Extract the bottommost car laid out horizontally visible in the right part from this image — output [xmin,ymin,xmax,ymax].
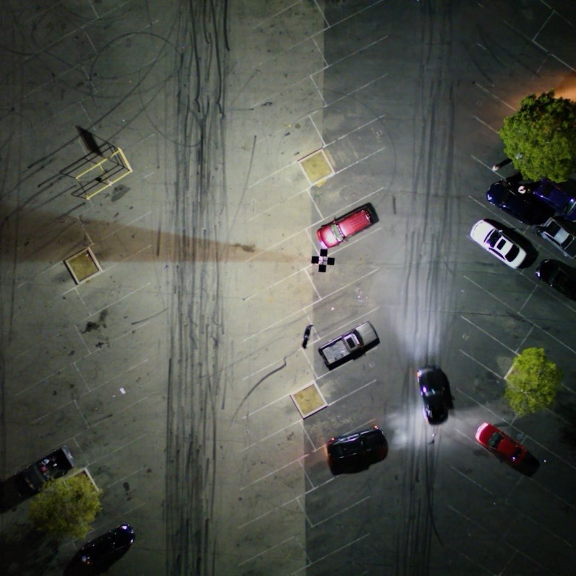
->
[327,428,387,465]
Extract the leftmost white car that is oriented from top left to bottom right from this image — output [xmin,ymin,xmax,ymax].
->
[470,220,527,269]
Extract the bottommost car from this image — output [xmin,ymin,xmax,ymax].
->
[78,525,137,568]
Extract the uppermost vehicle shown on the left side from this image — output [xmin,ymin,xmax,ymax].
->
[2,449,74,499]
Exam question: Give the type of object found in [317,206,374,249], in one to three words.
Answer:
car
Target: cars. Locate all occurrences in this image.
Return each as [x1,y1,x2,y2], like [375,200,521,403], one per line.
[534,258,576,300]
[317,206,374,249]
[485,180,549,227]
[78,525,137,568]
[327,428,387,465]
[535,219,576,259]
[532,176,576,221]
[470,220,527,269]
[476,424,534,472]
[417,365,448,425]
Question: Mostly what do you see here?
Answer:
paved ground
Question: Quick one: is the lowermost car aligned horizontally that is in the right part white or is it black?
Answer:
black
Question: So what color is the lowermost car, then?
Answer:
black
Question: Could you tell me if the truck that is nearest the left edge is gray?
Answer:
No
